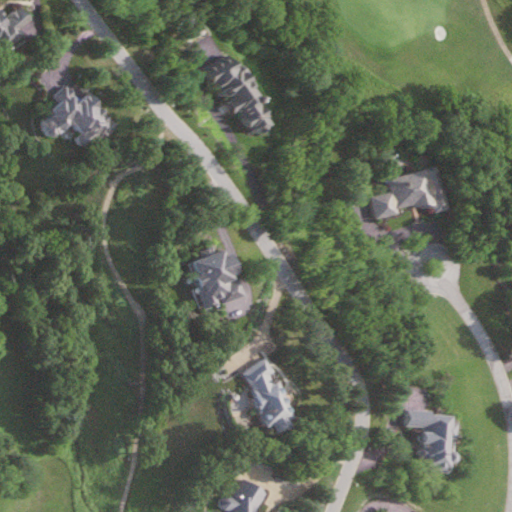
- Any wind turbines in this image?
No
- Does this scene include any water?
No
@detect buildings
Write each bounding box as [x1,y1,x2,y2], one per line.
[0,6,35,39]
[240,357,296,435]
[40,85,110,148]
[218,474,272,512]
[402,411,460,473]
[204,54,276,138]
[371,166,450,222]
[190,244,248,308]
